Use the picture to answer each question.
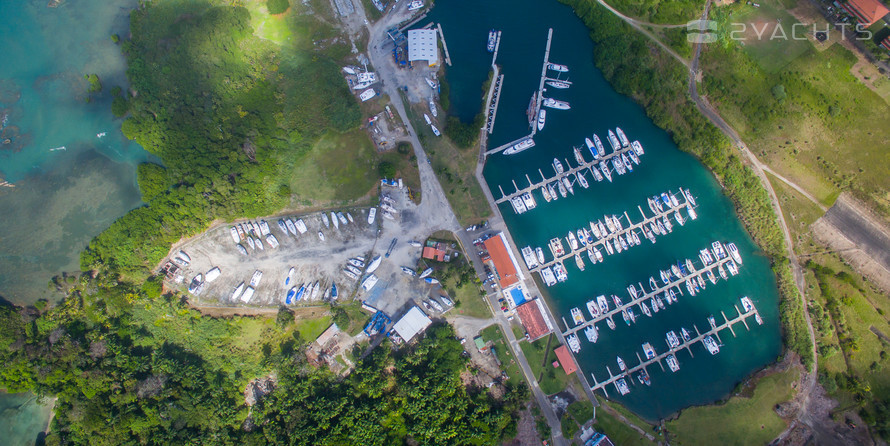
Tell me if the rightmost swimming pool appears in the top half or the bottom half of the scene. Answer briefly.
bottom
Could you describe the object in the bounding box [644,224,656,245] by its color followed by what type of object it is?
white boat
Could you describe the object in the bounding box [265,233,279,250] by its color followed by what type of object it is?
white boat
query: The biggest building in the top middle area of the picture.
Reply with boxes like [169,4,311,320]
[408,29,438,65]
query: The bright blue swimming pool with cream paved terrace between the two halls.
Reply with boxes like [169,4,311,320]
[503,282,533,310]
